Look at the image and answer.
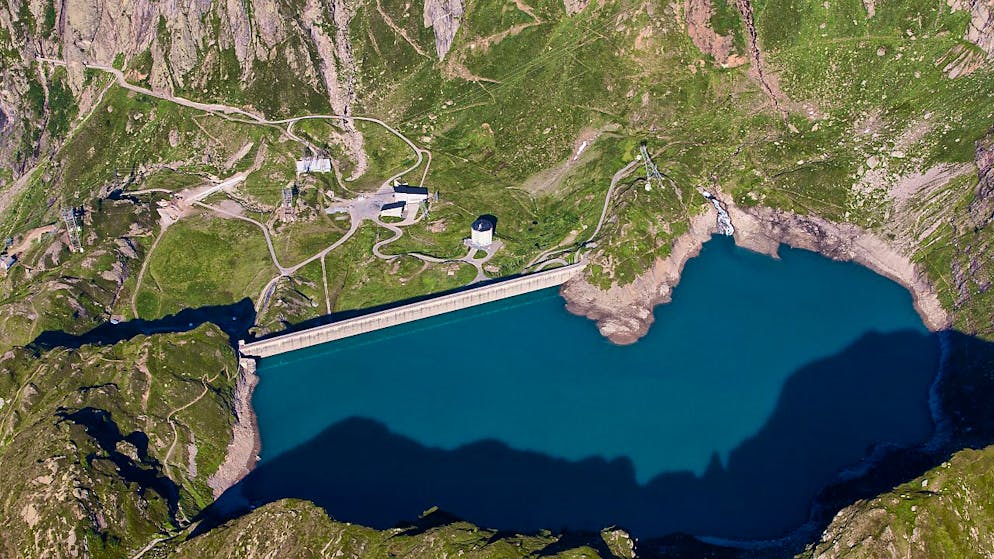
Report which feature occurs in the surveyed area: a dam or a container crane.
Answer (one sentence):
There is a dam in the scene.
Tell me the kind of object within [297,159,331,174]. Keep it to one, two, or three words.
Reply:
building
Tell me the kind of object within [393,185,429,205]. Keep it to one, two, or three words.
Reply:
building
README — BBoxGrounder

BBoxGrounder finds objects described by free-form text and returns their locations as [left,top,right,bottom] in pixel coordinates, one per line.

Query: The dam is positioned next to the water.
[246,258,572,357]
